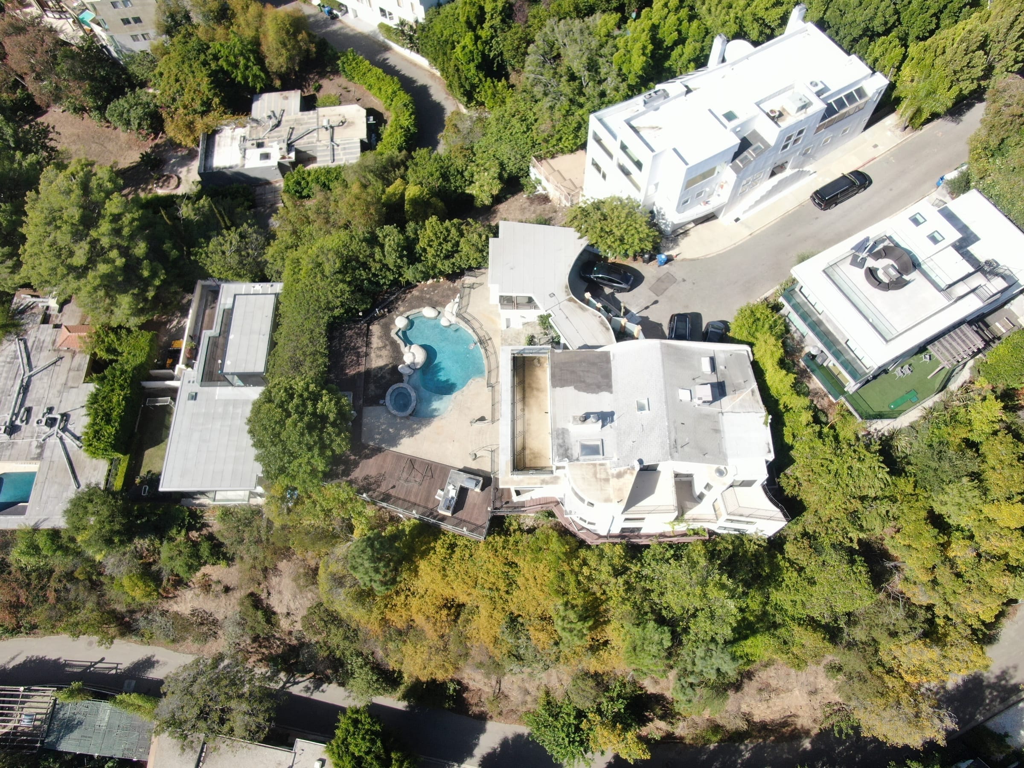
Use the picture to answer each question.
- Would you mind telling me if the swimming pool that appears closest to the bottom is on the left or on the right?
left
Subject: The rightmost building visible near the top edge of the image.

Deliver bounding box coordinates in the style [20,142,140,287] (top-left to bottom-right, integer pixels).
[584,4,889,248]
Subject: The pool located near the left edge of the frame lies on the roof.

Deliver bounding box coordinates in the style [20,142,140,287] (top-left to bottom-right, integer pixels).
[0,467,37,516]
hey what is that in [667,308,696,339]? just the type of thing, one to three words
car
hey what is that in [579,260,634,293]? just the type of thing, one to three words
car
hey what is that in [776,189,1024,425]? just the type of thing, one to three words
house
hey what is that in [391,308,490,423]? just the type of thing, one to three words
swimming pool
